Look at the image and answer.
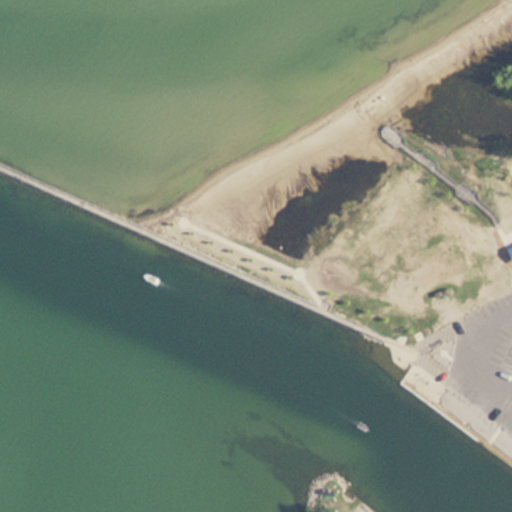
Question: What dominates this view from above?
water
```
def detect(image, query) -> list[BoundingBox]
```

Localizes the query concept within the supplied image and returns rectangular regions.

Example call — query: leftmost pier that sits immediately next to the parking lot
[0,164,405,353]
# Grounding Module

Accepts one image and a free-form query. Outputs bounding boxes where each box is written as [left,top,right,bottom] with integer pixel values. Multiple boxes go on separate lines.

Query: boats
[144,275,160,286]
[356,422,368,431]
